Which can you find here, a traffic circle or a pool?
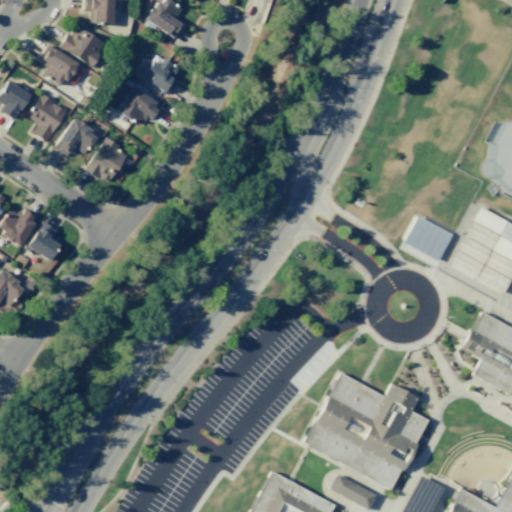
traffic circle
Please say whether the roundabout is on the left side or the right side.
right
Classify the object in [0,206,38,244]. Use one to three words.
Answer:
house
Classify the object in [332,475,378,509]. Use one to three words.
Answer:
building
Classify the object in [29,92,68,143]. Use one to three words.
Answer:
house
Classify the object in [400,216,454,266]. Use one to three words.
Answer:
building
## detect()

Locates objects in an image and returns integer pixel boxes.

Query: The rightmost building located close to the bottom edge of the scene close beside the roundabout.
[306,372,430,488]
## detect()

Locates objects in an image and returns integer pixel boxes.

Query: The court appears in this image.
[480,122,512,190]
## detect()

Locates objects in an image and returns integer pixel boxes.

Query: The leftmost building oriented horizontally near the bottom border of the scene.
[246,472,336,512]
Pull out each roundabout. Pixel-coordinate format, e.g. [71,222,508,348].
[362,265,448,350]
